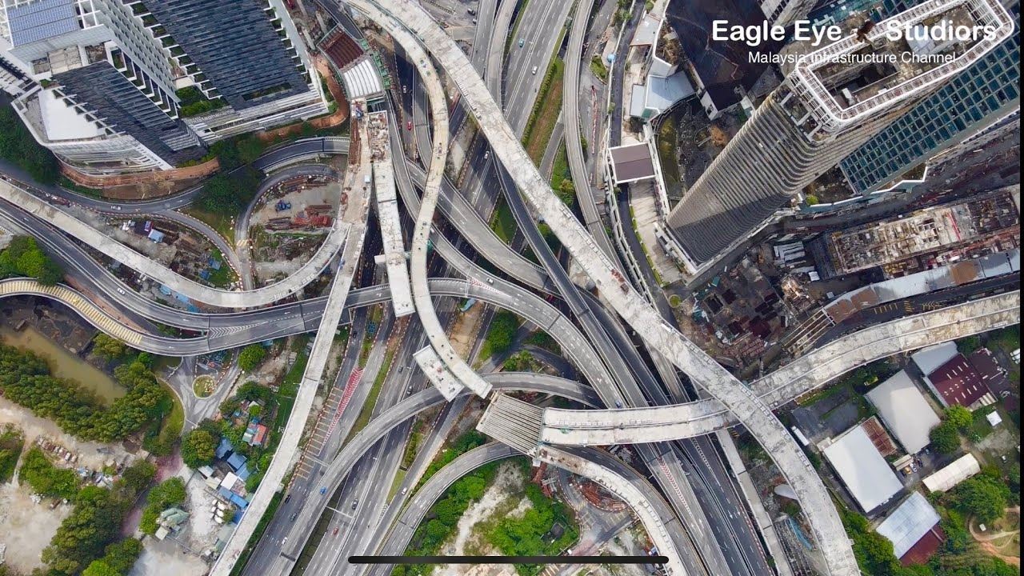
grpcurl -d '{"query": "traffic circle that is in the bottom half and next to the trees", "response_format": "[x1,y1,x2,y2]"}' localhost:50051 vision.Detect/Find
[183,365,225,407]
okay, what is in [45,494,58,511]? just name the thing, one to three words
vehicle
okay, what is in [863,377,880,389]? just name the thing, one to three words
vehicle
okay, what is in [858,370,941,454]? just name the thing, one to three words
building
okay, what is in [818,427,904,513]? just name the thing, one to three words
building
